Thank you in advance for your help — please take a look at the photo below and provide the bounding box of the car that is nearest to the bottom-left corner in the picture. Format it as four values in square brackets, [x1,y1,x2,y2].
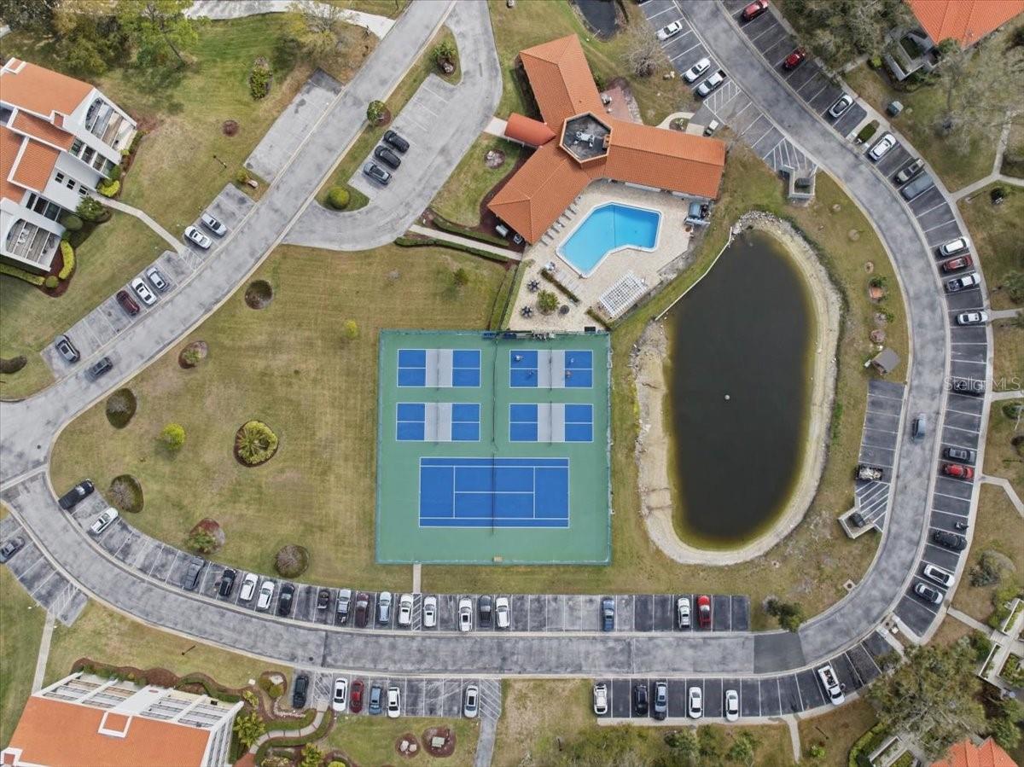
[0,535,23,561]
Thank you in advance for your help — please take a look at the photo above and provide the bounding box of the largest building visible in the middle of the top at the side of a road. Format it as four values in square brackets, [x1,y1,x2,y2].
[487,34,725,244]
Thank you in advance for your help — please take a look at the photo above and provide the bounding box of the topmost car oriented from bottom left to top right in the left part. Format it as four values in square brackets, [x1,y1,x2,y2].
[81,355,112,379]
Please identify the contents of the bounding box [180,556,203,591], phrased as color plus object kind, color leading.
gray vehicle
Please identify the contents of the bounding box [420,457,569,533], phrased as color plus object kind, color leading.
blue tennis court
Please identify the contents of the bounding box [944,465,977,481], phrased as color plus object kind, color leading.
red car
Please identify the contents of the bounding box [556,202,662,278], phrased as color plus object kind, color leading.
blue swimming pool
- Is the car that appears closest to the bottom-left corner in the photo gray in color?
Yes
